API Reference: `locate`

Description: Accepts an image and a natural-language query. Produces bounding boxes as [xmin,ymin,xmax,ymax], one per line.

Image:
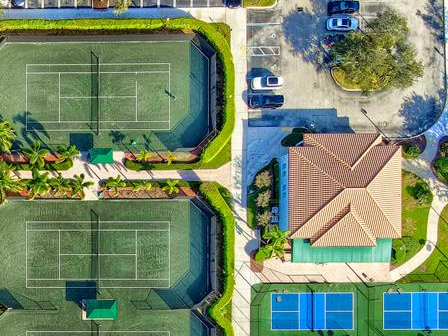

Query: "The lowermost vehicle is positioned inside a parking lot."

[249,92,284,107]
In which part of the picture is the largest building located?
right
